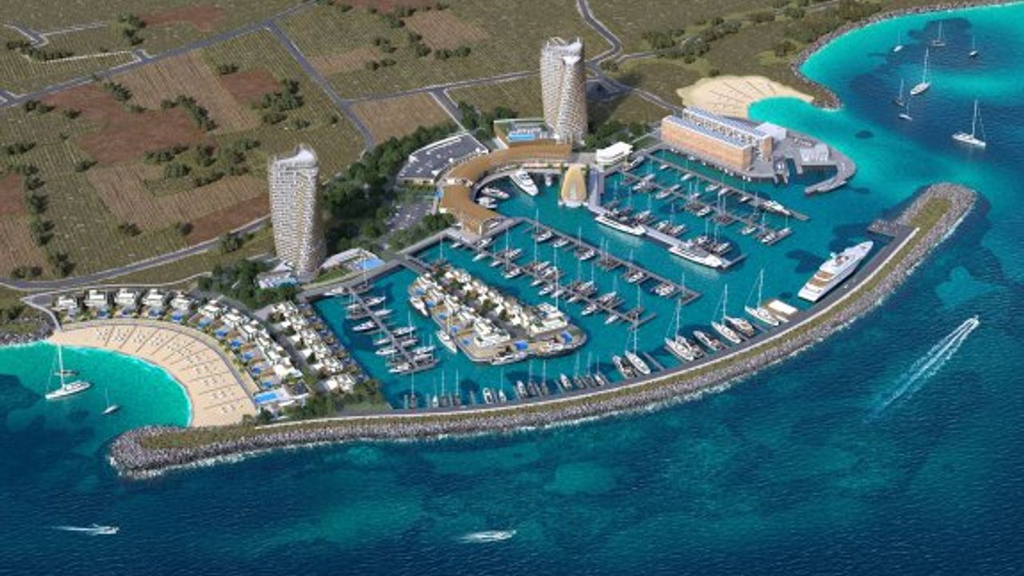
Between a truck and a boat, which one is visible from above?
boat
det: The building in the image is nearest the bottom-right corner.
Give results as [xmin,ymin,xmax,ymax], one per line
[760,297,802,320]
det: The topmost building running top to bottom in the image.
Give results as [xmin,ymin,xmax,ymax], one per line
[544,39,591,151]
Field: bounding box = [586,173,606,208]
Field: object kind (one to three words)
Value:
pier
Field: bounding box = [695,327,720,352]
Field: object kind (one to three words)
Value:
boat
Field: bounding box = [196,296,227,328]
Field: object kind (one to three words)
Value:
house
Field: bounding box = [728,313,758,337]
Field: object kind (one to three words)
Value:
boat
